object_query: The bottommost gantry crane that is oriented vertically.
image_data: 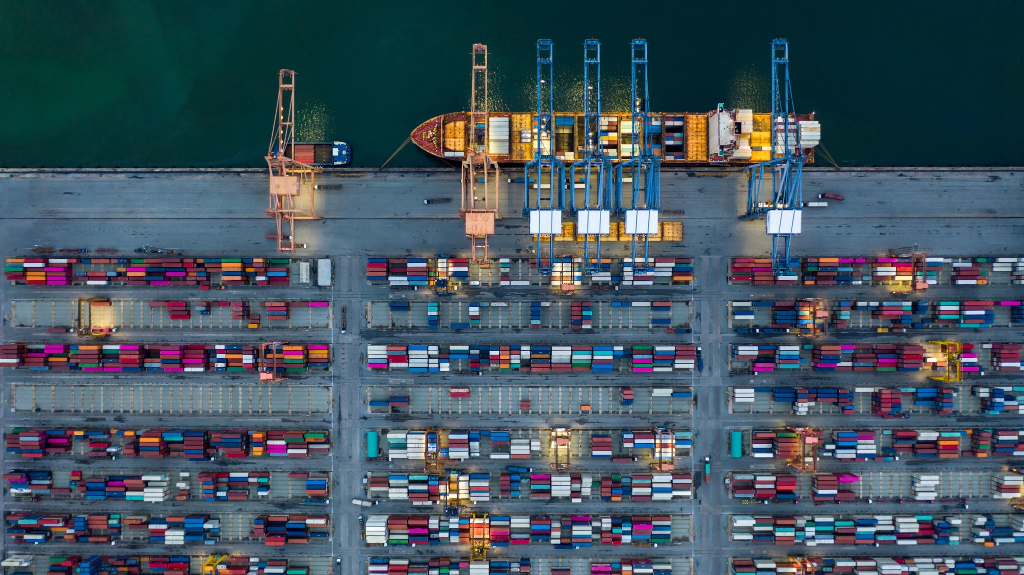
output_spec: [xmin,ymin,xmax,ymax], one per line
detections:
[469,508,490,561]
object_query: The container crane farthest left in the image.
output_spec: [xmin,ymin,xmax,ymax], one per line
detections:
[76,295,112,340]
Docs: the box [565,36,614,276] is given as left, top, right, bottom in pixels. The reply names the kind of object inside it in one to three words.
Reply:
container crane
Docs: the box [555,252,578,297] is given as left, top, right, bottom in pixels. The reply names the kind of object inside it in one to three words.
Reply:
container crane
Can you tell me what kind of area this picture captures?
port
